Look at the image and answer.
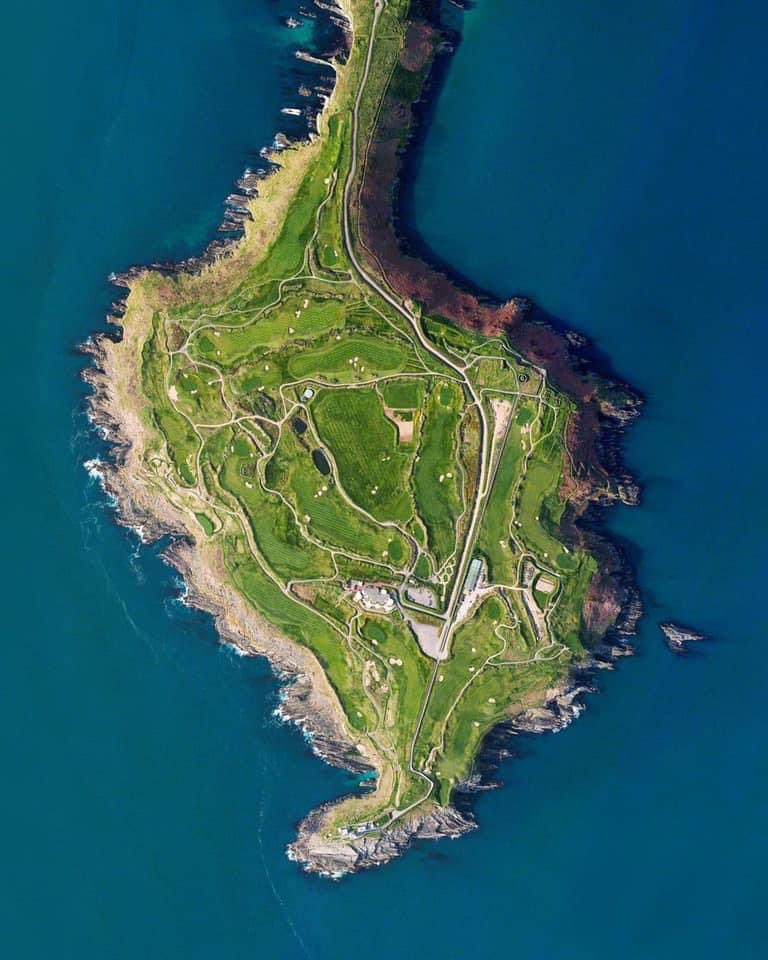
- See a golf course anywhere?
Yes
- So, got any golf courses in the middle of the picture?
Yes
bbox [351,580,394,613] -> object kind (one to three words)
building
